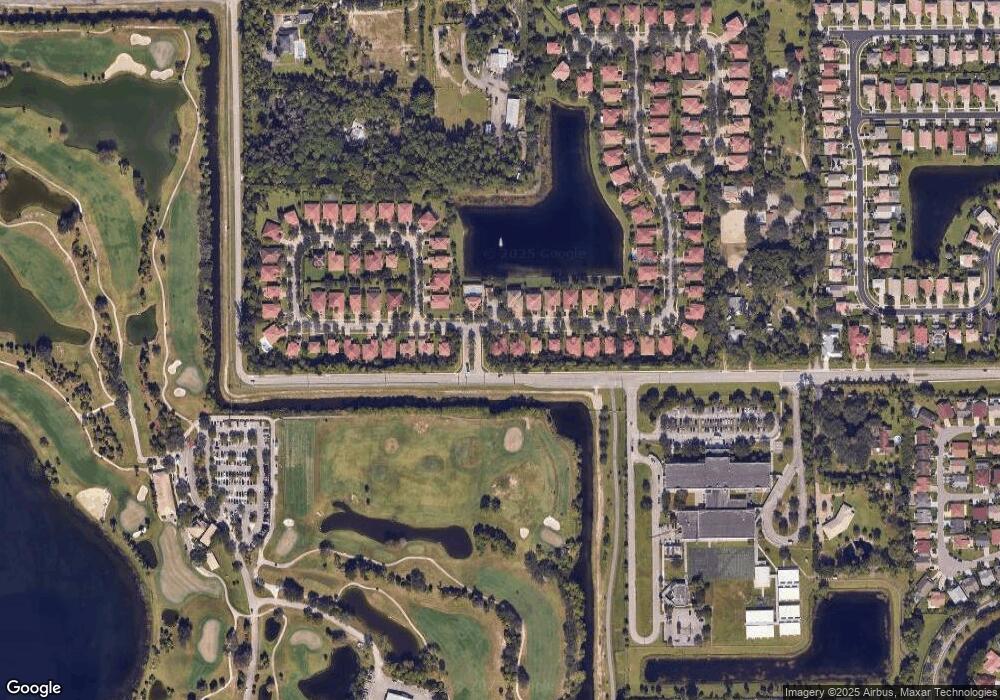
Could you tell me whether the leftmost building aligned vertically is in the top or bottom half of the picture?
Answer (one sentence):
Seen from above, the leftmost building aligned vertically lies in the bottom half of the view.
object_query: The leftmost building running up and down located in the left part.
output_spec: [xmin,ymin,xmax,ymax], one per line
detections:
[150,472,177,521]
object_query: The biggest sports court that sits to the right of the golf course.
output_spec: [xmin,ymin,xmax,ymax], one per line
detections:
[688,548,754,579]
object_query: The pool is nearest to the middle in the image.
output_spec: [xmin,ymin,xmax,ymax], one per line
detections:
[465,285,482,298]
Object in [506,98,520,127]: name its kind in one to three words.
shed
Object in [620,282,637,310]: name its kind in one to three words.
house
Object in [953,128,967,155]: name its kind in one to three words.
house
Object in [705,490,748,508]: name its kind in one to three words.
building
